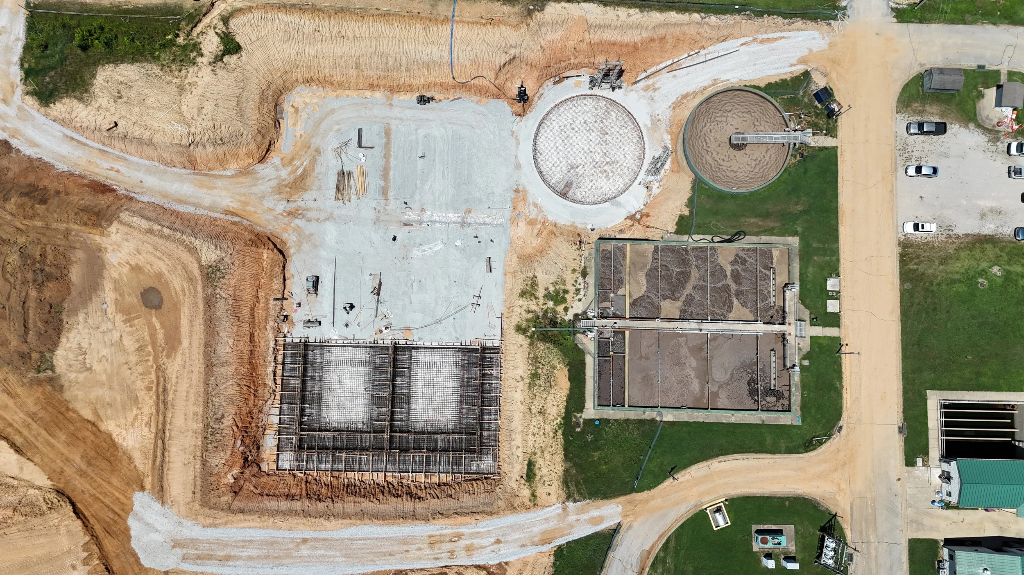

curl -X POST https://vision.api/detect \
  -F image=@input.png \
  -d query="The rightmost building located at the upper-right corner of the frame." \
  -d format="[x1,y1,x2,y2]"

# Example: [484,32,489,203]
[985,78,1024,111]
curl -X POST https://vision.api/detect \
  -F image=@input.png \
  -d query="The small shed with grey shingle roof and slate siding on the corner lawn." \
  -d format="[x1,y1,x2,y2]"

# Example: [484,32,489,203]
[921,68,968,93]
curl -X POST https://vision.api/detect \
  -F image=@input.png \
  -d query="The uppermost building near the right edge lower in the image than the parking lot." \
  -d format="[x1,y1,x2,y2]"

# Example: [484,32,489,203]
[936,457,1024,508]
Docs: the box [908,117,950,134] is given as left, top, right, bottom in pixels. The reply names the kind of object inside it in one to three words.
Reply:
vehicle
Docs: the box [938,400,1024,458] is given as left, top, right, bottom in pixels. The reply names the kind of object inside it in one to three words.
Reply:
storage tank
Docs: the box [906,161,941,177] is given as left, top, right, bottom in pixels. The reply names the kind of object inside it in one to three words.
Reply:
car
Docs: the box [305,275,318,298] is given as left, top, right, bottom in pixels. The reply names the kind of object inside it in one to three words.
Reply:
vehicle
